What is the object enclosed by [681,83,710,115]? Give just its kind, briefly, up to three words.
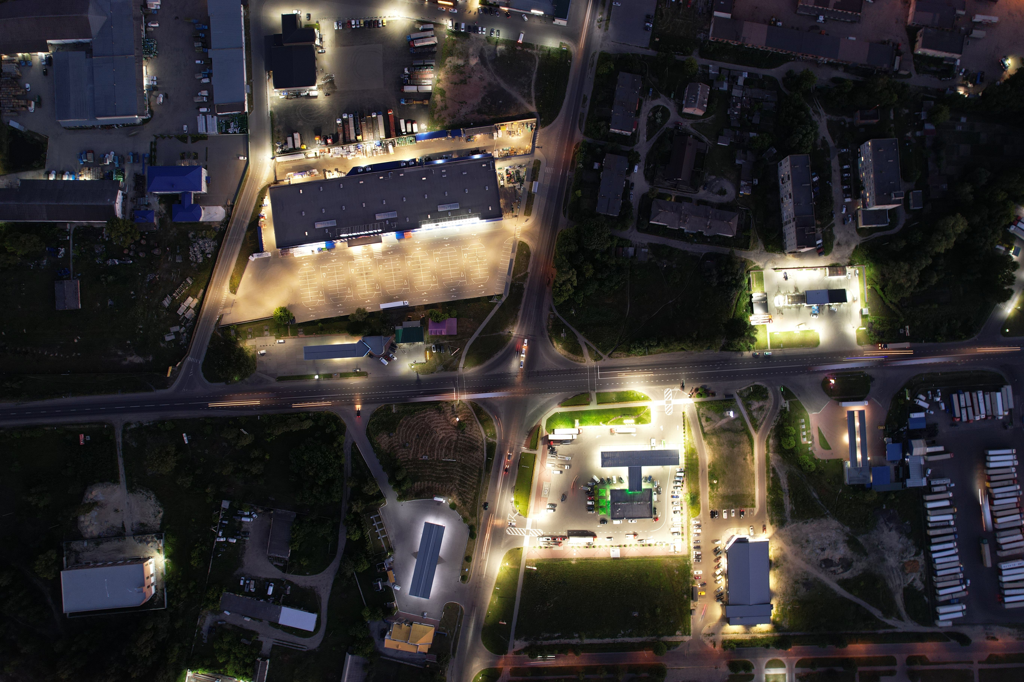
house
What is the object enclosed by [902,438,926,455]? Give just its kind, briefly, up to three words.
barn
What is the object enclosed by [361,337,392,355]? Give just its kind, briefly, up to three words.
building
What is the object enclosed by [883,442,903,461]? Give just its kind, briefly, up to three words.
shed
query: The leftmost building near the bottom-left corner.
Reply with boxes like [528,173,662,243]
[61,557,161,613]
